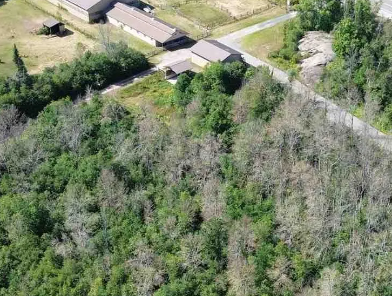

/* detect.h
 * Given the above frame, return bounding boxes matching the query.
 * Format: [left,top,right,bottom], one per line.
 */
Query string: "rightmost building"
[190,38,243,70]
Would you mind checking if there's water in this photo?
No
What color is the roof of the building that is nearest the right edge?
white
